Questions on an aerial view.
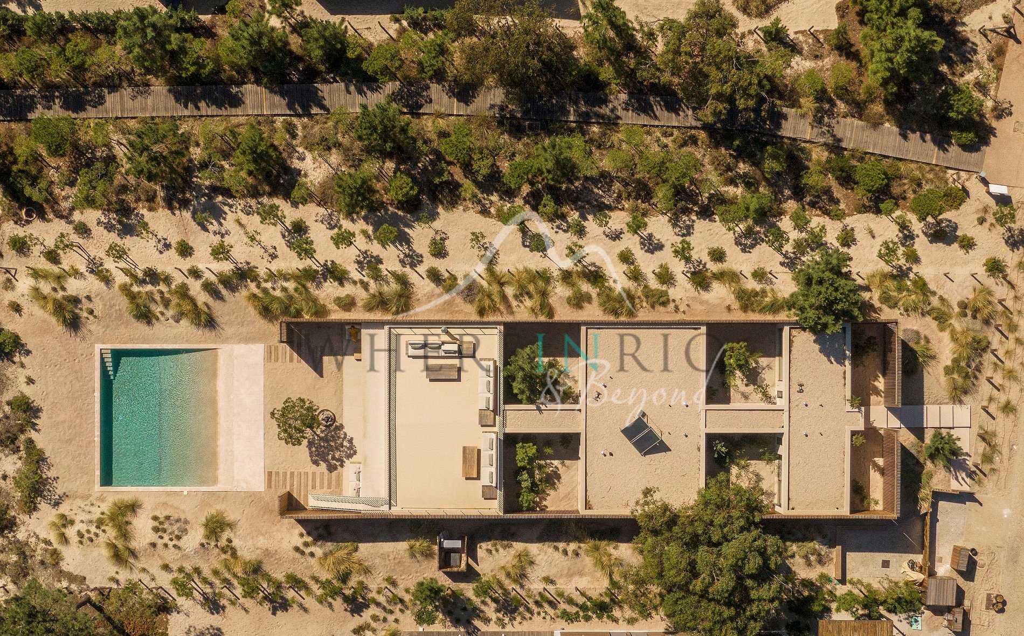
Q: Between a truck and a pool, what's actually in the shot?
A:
pool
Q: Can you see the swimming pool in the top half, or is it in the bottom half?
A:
bottom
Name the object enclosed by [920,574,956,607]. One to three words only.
shed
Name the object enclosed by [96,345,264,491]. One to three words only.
swimming pool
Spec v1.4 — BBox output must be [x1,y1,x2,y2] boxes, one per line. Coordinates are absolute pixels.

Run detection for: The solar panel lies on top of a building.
[620,408,661,455]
